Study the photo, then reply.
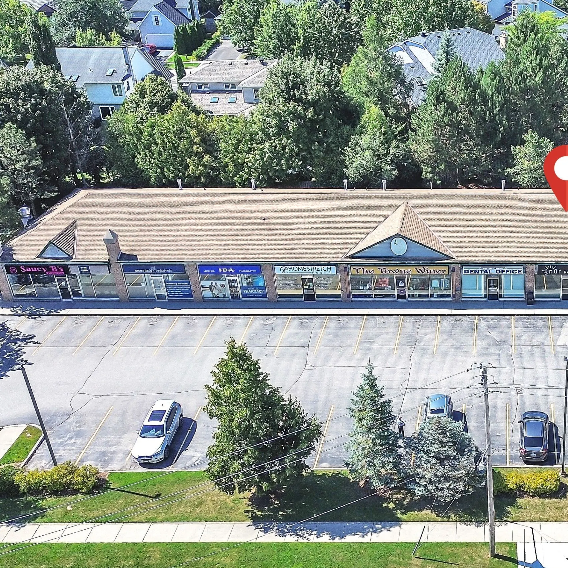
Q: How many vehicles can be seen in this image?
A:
3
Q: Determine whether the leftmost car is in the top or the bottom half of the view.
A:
bottom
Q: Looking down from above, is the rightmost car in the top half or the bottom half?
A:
bottom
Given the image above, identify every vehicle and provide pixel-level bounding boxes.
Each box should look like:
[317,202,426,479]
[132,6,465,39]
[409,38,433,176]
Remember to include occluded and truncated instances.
[513,402,551,454]
[137,388,195,455]
[421,393,460,427]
